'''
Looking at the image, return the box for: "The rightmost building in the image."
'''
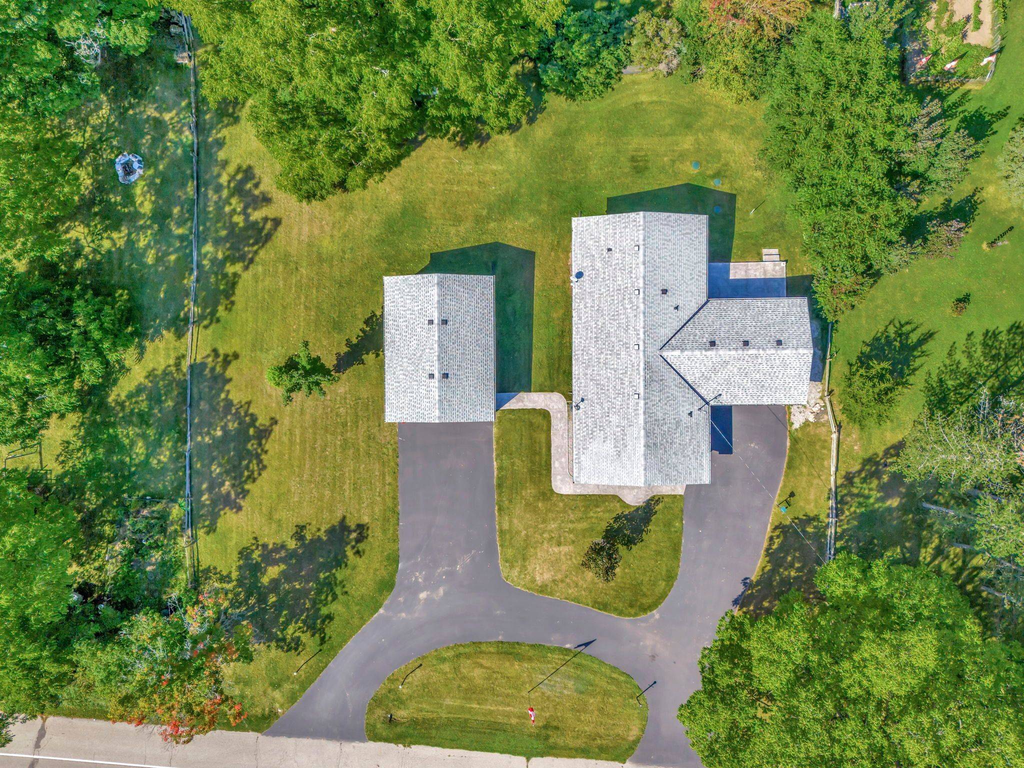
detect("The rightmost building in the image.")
[568,211,814,487]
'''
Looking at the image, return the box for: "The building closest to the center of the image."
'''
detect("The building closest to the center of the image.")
[382,273,496,423]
